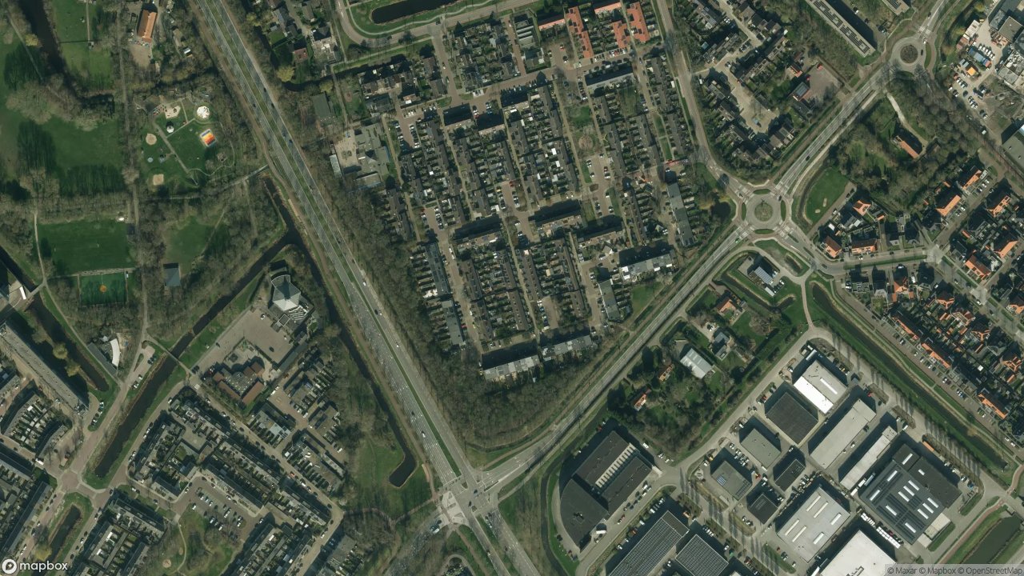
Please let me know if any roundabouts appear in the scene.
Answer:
Yes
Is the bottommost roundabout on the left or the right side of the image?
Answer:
right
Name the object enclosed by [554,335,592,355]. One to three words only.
building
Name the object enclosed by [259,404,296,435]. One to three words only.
house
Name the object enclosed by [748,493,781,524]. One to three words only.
building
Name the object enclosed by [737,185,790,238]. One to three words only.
roundabout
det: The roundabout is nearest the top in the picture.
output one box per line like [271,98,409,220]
[890,35,931,76]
